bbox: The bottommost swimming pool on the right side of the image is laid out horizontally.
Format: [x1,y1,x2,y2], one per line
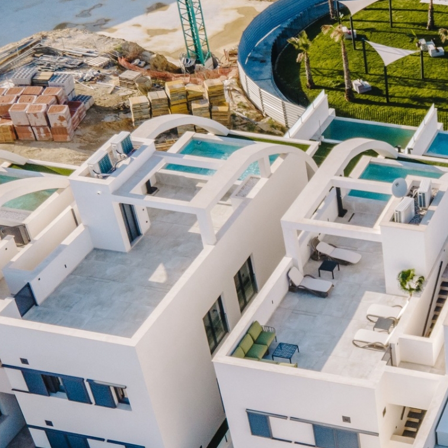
[350,161,447,198]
